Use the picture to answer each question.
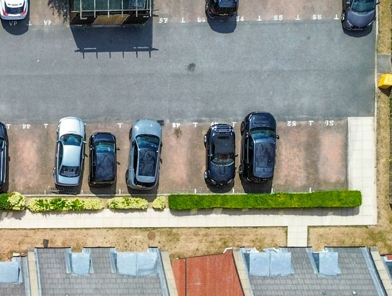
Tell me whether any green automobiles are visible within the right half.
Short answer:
No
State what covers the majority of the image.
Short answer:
paved ground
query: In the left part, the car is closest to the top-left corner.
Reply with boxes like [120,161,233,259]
[0,0,29,21]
